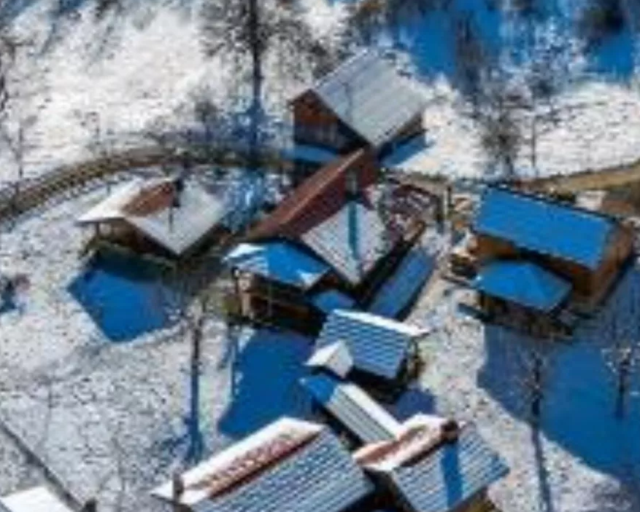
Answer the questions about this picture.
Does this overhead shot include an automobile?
No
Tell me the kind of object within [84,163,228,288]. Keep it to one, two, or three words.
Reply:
house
